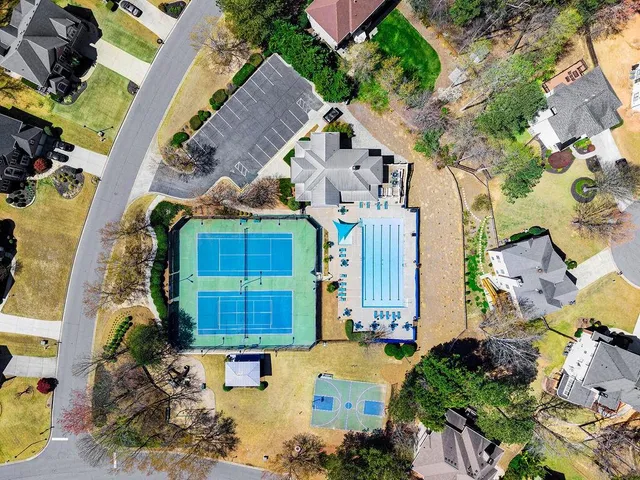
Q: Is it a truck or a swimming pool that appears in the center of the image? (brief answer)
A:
swimming pool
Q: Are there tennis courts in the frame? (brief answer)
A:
Yes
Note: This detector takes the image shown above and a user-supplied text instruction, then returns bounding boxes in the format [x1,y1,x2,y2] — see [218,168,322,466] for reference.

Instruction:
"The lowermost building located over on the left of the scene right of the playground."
[226,358,262,386]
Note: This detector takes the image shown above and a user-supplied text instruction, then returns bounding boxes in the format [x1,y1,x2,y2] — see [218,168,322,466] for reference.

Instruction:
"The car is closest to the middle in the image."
[324,107,341,122]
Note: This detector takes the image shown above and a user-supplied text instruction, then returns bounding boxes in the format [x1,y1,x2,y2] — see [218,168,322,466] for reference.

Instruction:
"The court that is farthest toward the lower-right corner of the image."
[311,378,387,434]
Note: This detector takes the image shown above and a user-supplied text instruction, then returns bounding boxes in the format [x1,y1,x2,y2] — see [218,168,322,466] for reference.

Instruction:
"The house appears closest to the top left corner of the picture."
[0,0,90,92]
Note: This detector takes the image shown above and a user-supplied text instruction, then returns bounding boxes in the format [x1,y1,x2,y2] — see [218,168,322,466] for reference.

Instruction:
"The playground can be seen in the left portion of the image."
[157,355,216,424]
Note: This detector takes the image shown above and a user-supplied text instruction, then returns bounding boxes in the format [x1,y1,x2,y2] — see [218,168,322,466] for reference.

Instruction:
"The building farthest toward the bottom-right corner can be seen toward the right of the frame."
[549,329,640,421]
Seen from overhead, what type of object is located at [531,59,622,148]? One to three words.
house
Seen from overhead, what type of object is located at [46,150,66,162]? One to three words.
vehicle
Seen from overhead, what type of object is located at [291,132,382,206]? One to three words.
house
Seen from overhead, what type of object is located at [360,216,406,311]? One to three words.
swimming pool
